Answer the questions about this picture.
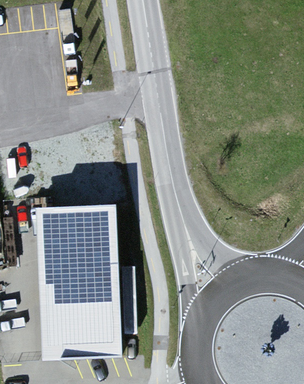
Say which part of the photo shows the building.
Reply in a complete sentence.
The building is located in the bottom left region of the scene.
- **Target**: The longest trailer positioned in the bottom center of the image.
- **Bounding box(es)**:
[122,268,137,336]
